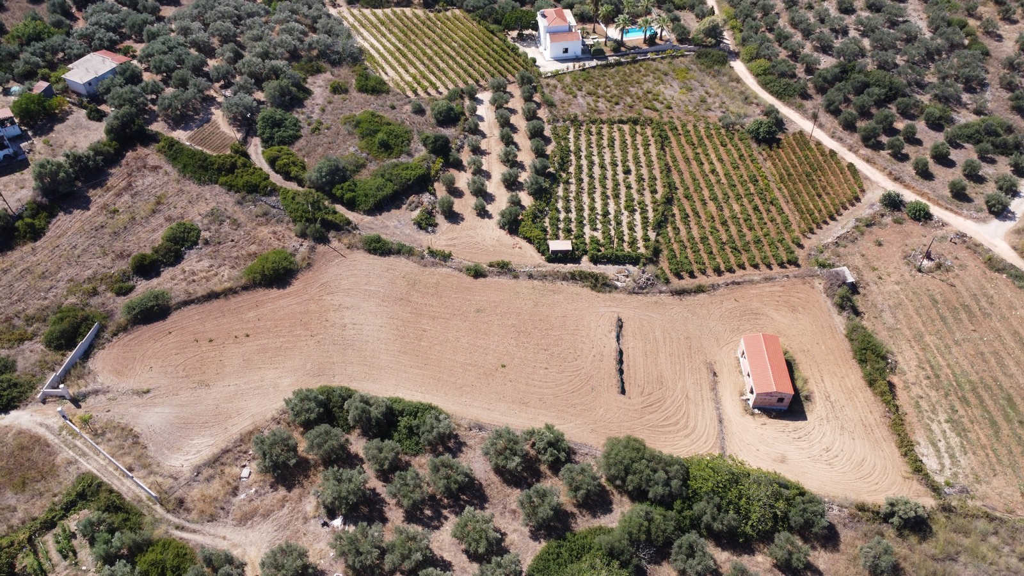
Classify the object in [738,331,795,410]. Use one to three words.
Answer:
building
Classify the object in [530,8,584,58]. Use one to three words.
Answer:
house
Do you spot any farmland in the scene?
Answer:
Yes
